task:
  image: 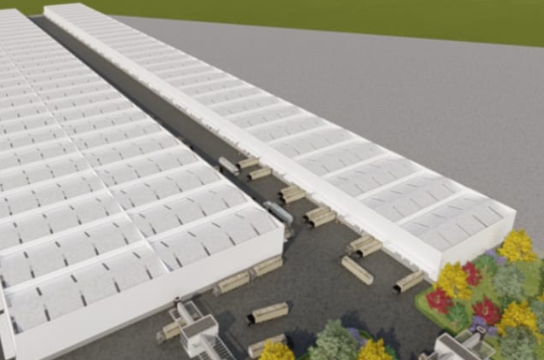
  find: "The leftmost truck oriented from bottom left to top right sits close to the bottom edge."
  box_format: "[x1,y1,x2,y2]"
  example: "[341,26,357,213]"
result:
[156,317,188,346]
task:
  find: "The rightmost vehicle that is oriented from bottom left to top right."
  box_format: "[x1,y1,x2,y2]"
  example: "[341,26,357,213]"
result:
[392,269,425,297]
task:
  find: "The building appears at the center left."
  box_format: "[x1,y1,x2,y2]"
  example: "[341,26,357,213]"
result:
[0,10,284,360]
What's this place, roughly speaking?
industrial area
